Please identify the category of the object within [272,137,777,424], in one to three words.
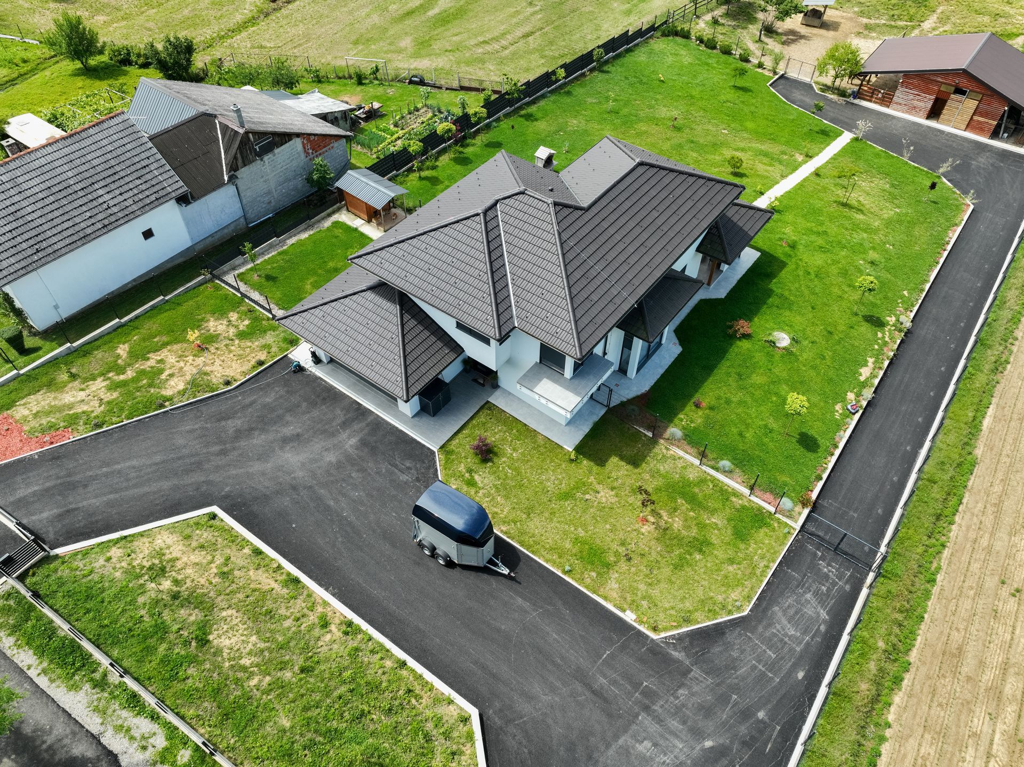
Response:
house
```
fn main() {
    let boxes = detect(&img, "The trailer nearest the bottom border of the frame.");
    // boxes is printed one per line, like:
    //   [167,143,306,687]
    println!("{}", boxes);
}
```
[409,484,519,579]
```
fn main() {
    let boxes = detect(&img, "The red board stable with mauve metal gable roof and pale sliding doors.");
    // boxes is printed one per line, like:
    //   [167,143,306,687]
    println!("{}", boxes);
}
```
[855,33,1024,147]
